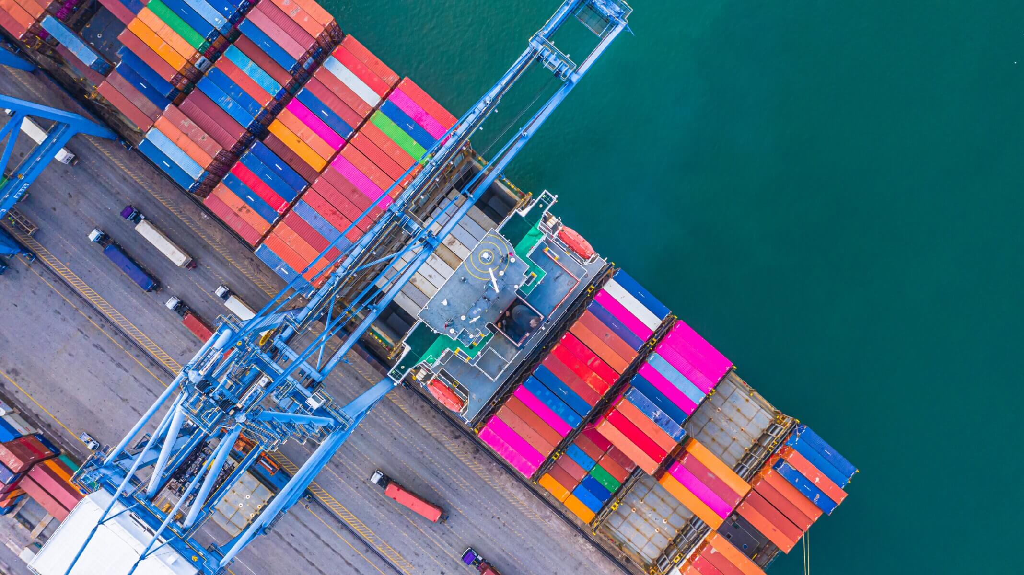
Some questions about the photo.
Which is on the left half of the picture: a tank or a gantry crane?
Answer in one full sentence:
It is a gantry crane that can be seen on the left half of the picture.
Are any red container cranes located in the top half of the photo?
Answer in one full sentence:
No, there is no red container crane in the top half of the photo.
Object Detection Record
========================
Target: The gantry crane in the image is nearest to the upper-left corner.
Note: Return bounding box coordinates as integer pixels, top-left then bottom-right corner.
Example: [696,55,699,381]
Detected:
[0,50,134,266]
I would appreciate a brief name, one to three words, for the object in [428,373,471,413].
boat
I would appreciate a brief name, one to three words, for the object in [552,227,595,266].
boat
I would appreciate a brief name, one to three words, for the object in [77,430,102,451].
truck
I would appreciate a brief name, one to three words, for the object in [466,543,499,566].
truck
